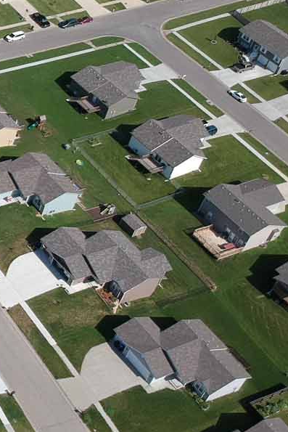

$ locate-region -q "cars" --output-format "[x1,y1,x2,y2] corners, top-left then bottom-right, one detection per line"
[78,15,96,26]
[3,28,25,42]
[58,16,78,29]
[202,124,223,136]
[29,12,50,28]
[225,88,249,104]
[232,59,255,73]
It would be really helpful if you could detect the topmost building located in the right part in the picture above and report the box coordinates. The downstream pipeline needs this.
[227,15,288,78]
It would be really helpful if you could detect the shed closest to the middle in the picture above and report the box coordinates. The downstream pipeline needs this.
[117,211,150,239]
